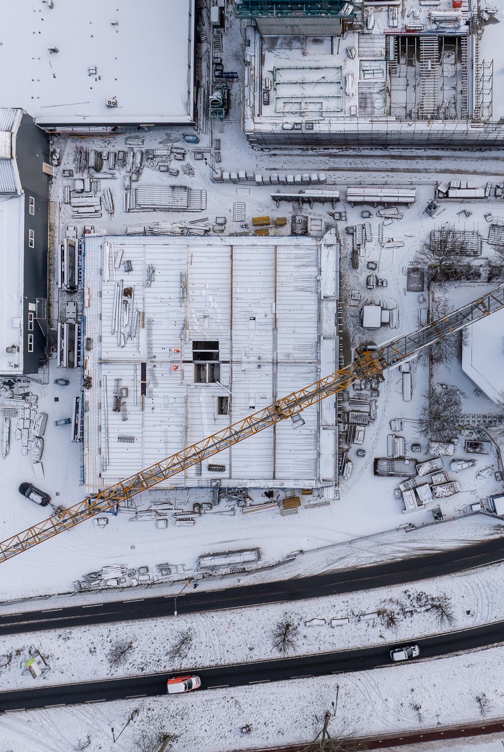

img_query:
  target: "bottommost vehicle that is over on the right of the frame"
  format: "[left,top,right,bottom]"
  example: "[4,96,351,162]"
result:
[390,641,420,661]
